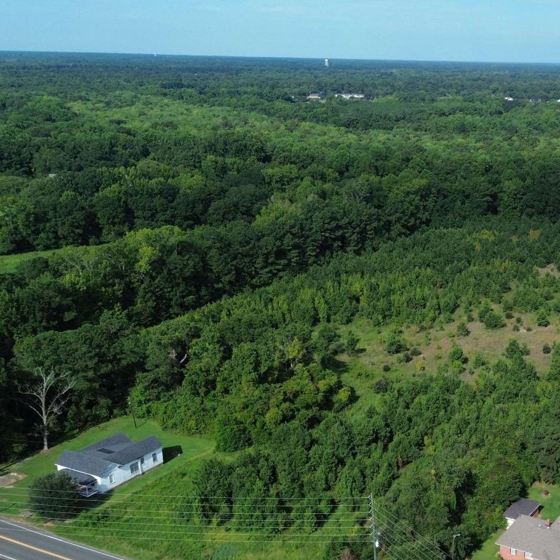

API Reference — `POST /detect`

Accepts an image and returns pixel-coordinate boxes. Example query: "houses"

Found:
[495,509,560,560]
[51,433,169,496]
